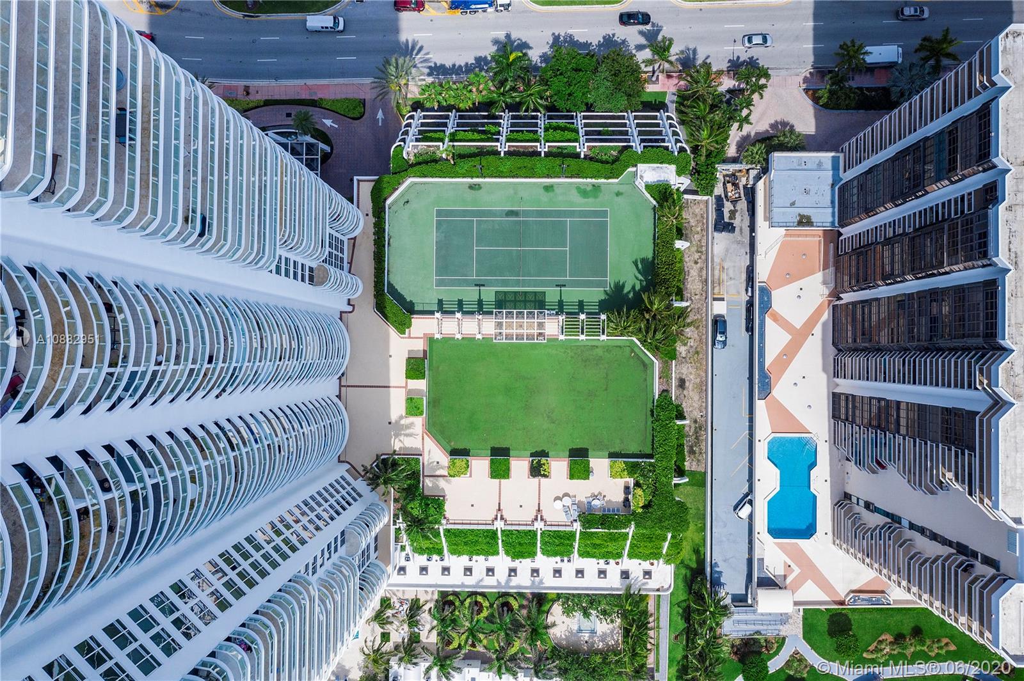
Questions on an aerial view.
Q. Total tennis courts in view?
1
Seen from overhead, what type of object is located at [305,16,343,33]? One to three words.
vehicle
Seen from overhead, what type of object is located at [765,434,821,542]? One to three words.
swimming pool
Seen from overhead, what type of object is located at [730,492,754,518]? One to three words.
car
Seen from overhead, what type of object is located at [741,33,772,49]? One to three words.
car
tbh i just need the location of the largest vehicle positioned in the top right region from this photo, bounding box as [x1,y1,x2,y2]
[863,44,905,67]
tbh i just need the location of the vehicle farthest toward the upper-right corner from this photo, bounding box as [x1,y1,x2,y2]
[896,5,928,22]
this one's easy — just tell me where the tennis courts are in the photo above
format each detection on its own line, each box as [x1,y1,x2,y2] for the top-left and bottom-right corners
[390,173,654,313]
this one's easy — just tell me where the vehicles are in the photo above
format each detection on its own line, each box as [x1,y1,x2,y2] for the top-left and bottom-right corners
[741,33,772,49]
[744,302,754,335]
[130,26,158,46]
[896,5,928,22]
[730,492,754,518]
[305,16,343,33]
[712,316,728,348]
[395,0,425,12]
[619,11,650,27]
[746,578,754,606]
[744,266,754,296]
[863,44,905,67]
